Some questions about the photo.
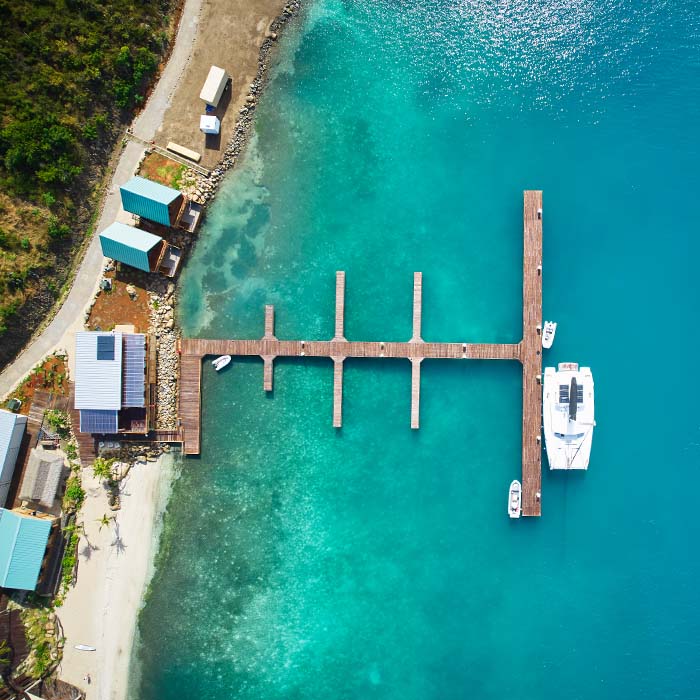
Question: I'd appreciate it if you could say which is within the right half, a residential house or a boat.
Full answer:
Looking within the right half, you will find a boat.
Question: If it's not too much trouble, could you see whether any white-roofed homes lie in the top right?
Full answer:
No, looking in the top right, there is no white-roofed home.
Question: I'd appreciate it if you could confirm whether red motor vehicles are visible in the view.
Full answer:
No, the scene contains no red motor vehicle.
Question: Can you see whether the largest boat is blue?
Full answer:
No, the color of the largest boat is white.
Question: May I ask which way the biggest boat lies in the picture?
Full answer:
The biggest boat runs vertically in the image.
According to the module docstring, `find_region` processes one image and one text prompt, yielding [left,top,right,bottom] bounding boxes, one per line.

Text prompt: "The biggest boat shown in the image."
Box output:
[540,362,596,470]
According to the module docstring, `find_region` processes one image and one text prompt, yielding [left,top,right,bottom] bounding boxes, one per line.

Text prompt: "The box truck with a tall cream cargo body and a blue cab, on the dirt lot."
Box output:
[196,60,228,111]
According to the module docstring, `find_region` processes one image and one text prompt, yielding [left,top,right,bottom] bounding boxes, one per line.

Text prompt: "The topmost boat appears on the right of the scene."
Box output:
[542,321,558,347]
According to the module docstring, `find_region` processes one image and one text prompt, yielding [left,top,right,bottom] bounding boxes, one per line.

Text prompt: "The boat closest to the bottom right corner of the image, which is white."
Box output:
[508,480,524,520]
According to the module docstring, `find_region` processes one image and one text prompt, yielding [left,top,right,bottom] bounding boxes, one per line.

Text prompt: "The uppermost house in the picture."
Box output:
[120,175,207,234]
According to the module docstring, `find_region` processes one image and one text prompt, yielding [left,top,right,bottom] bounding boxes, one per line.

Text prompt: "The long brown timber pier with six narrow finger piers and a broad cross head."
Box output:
[180,191,543,516]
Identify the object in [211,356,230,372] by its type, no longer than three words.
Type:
boat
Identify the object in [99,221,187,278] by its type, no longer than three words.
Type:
house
